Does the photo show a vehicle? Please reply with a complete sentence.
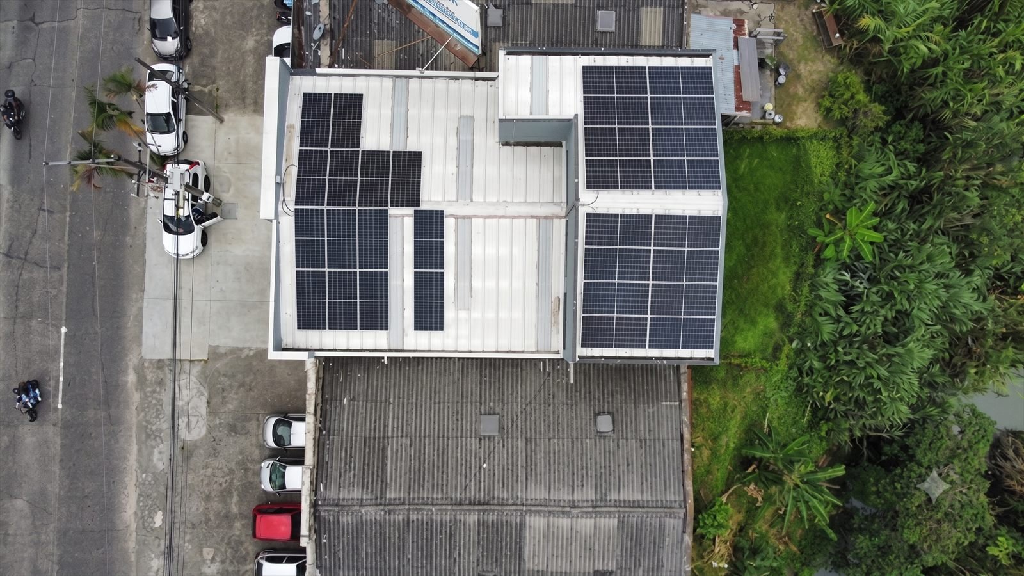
Yes, there's a vehicle here.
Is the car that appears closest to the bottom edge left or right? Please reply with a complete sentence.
The car that appears closest to the bottom edge appears in the left half of the scene.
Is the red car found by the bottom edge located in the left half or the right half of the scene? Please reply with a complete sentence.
It is on the left.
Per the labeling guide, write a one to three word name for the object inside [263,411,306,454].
car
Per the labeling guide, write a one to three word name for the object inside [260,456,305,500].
car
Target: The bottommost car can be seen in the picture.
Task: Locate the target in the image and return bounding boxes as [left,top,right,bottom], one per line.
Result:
[250,548,306,576]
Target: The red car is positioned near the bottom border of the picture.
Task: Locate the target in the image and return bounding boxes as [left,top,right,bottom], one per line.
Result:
[250,502,304,548]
